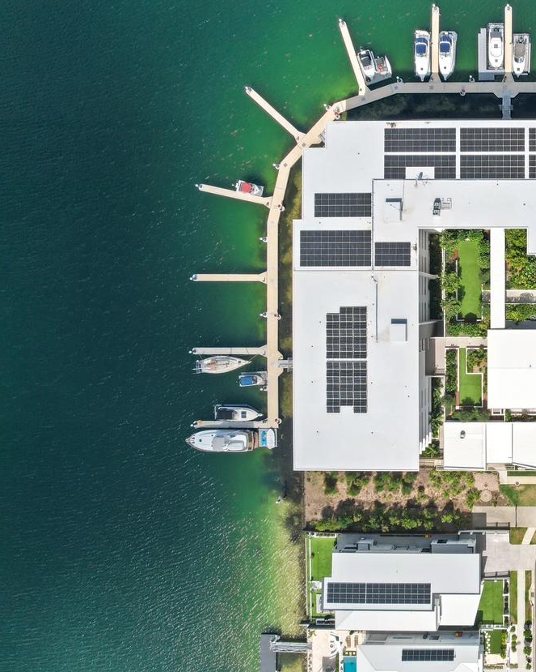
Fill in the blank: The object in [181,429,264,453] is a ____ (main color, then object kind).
white boat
